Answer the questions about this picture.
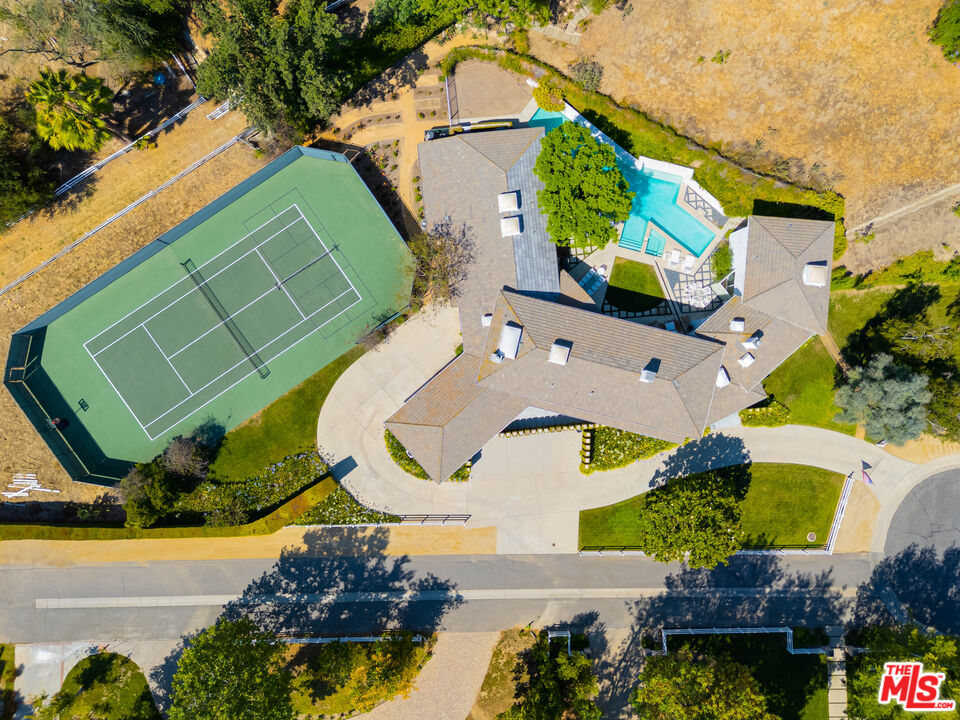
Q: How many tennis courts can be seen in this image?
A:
1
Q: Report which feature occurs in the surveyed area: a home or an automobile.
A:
home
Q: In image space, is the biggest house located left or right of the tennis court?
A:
on the right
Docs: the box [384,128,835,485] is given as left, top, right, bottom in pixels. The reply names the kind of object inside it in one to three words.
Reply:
house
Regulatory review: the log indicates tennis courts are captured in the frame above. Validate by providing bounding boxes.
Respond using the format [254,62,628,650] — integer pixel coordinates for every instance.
[22,156,418,483]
